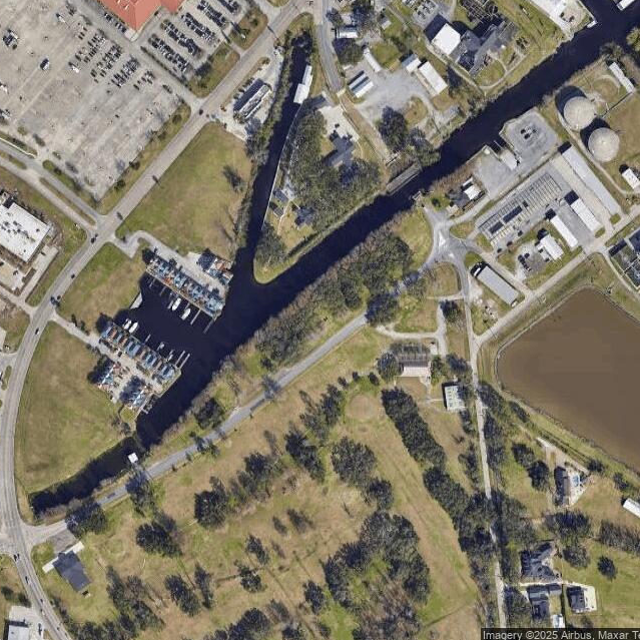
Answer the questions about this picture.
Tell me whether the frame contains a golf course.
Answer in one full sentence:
Yes, this view includes a golf course.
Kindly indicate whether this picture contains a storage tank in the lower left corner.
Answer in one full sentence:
No, I see no storage tank in the lower left corner.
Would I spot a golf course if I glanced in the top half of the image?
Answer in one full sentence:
No, I see no golf course in the top half of the image.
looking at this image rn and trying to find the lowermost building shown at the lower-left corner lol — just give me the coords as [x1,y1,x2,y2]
[7,622,30,640]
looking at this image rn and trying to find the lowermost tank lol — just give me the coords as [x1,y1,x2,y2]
[588,129,620,161]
